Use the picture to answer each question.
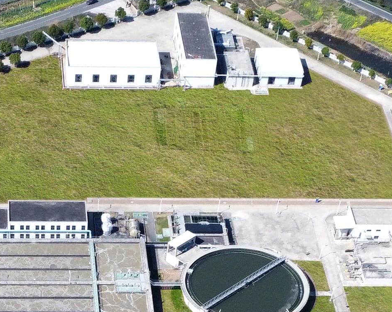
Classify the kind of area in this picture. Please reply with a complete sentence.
This looks like an industrial area.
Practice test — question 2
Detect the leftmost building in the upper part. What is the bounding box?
[65,42,161,88]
